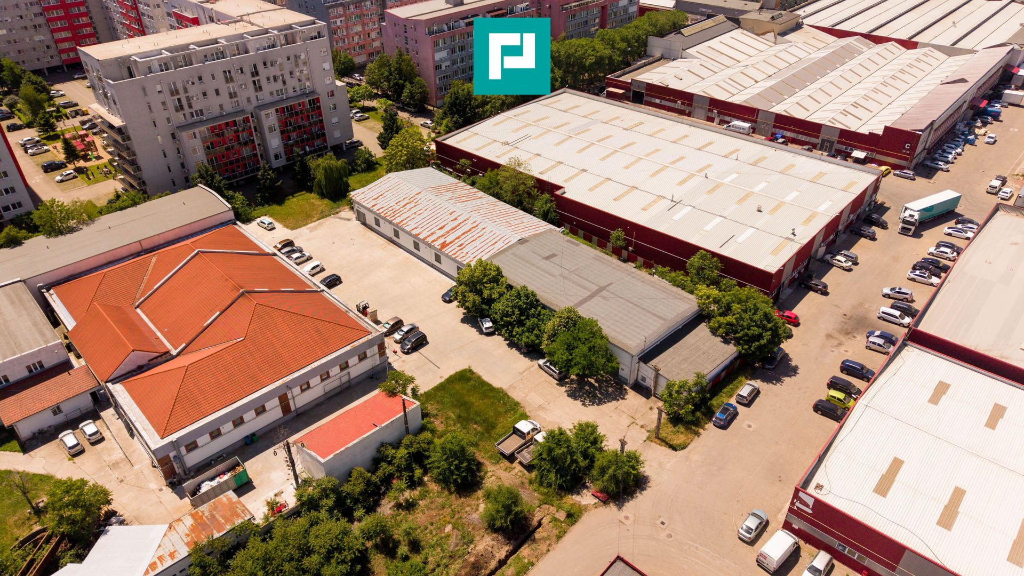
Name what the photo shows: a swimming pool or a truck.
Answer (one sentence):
There is a truck in the scene.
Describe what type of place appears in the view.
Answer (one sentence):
It's an industrial area.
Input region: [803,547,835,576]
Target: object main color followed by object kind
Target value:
white car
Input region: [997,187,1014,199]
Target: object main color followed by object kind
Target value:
white vehicle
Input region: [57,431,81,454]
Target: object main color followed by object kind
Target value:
white car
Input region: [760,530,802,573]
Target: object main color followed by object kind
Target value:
white van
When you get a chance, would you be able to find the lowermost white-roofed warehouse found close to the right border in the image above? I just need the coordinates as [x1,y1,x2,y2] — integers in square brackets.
[783,339,1024,576]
